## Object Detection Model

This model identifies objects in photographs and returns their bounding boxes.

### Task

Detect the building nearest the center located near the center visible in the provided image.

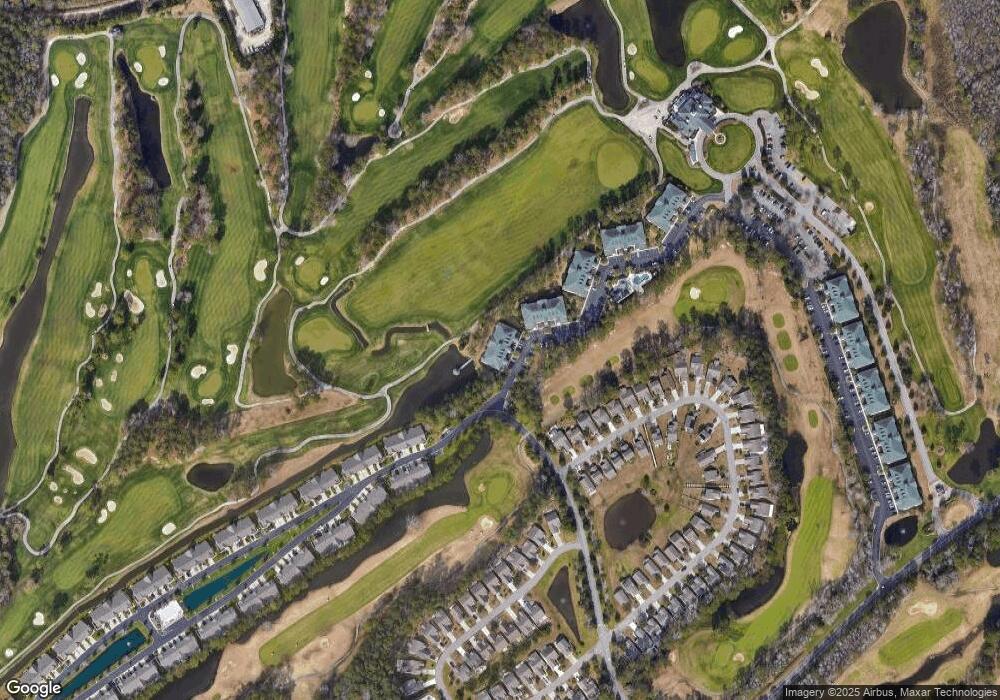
[479,322,521,372]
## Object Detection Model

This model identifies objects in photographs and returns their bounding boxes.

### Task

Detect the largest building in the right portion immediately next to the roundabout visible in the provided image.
[670,85,724,143]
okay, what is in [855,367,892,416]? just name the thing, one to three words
building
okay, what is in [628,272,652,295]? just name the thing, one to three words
swimming pool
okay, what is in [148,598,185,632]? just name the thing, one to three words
building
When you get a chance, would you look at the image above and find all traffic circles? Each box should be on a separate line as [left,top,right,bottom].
[696,109,766,179]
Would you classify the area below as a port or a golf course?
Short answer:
golf course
